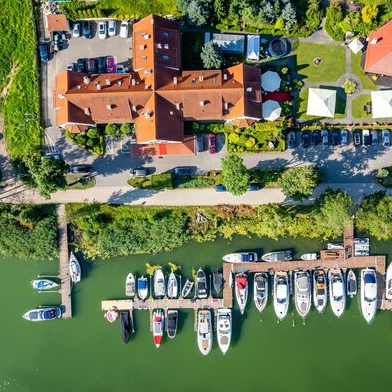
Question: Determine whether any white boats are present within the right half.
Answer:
Yes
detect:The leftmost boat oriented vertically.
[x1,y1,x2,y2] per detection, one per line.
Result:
[66,252,83,285]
